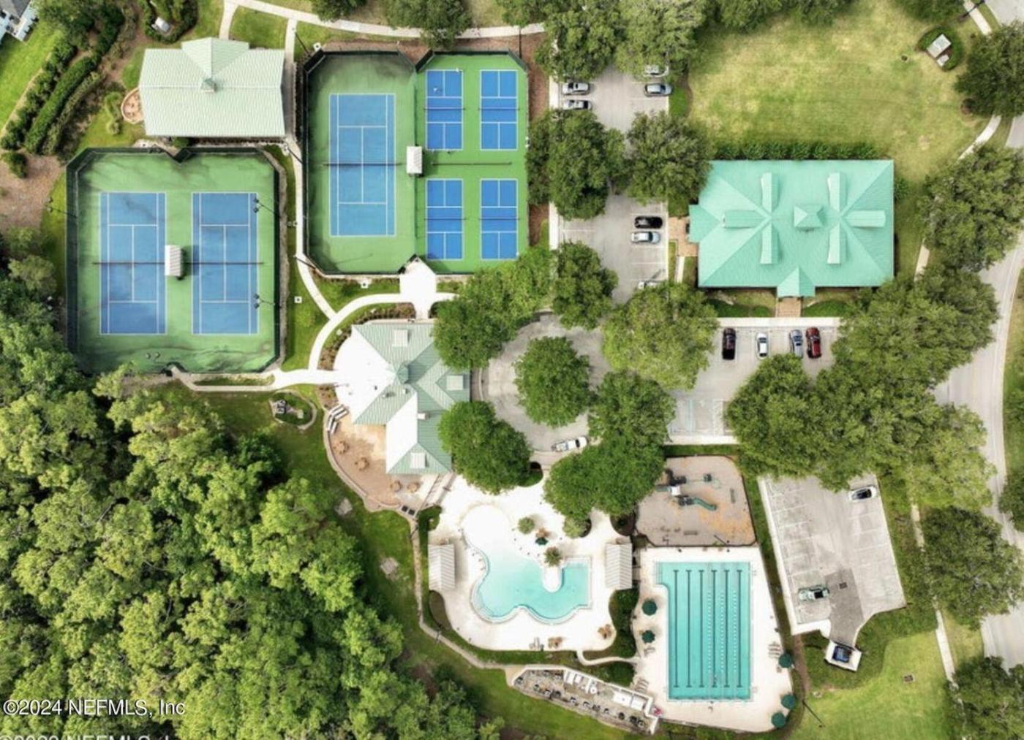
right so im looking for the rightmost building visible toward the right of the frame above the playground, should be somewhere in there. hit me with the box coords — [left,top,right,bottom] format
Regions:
[684,159,894,298]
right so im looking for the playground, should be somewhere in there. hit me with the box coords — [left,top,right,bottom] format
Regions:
[659,470,723,512]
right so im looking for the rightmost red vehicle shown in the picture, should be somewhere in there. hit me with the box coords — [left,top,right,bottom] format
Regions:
[804,328,821,358]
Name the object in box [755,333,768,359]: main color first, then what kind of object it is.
white vehicle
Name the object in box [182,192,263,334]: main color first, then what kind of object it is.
blue tennis court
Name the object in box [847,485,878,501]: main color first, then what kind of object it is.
white car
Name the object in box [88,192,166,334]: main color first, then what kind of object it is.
blue tennis court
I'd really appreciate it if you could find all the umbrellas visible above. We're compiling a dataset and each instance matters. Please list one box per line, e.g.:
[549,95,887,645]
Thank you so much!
[641,598,657,614]
[777,651,792,667]
[769,711,785,726]
[779,693,795,708]
[641,628,655,643]
[535,535,548,547]
[651,703,662,715]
